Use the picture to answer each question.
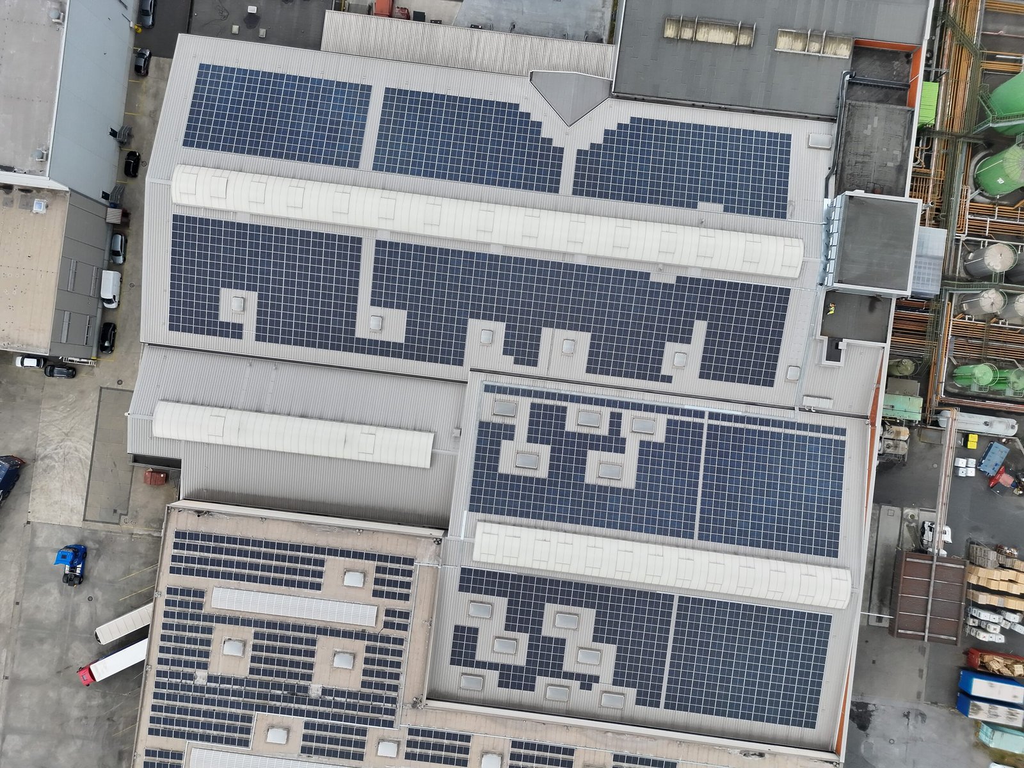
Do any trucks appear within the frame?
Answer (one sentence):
Yes, a truck appears in the view.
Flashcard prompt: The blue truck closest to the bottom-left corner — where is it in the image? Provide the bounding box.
[55,544,87,587]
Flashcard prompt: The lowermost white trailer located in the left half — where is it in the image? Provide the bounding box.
[90,637,146,682]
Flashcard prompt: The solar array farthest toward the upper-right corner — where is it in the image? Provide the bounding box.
[572,116,792,219]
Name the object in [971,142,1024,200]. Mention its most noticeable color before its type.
green storage tank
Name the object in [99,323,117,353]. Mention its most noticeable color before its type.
black car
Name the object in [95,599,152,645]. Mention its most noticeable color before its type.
white trailer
